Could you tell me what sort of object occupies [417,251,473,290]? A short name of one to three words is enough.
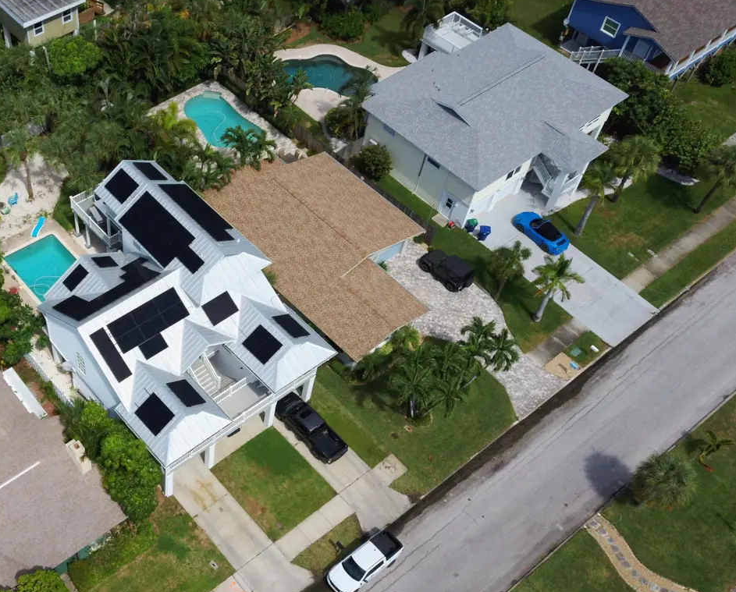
vehicle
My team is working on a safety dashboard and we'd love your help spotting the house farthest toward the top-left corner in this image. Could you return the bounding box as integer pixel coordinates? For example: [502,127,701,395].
[0,0,99,69]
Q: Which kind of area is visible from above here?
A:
residential area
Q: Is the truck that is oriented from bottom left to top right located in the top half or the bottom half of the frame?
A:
bottom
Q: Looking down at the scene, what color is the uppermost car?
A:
blue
